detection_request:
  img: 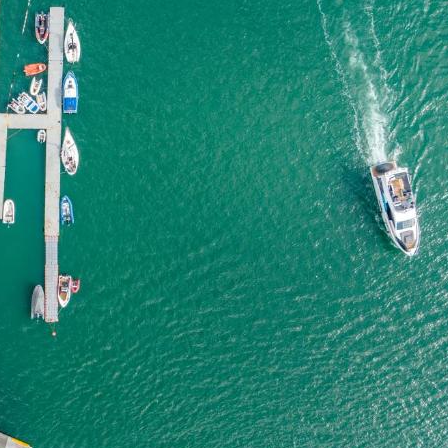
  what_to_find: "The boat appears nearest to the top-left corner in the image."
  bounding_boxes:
[34,10,49,43]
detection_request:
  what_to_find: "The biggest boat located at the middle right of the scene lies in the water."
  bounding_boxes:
[368,157,421,257]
